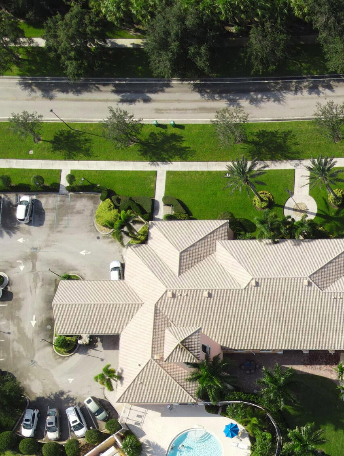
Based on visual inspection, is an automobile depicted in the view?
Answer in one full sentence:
Yes, the picture does show an automobile.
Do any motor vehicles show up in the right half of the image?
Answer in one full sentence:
No, no motor vehicle appears in the right half of the image.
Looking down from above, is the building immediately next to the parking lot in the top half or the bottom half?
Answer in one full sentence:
Seen from above, the building immediately next to the parking lot lies in the bottom half of the view.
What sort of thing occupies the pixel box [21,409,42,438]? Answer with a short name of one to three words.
car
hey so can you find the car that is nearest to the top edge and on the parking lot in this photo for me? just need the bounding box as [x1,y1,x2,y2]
[17,198,34,223]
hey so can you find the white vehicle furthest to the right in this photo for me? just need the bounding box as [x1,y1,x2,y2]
[109,257,125,280]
